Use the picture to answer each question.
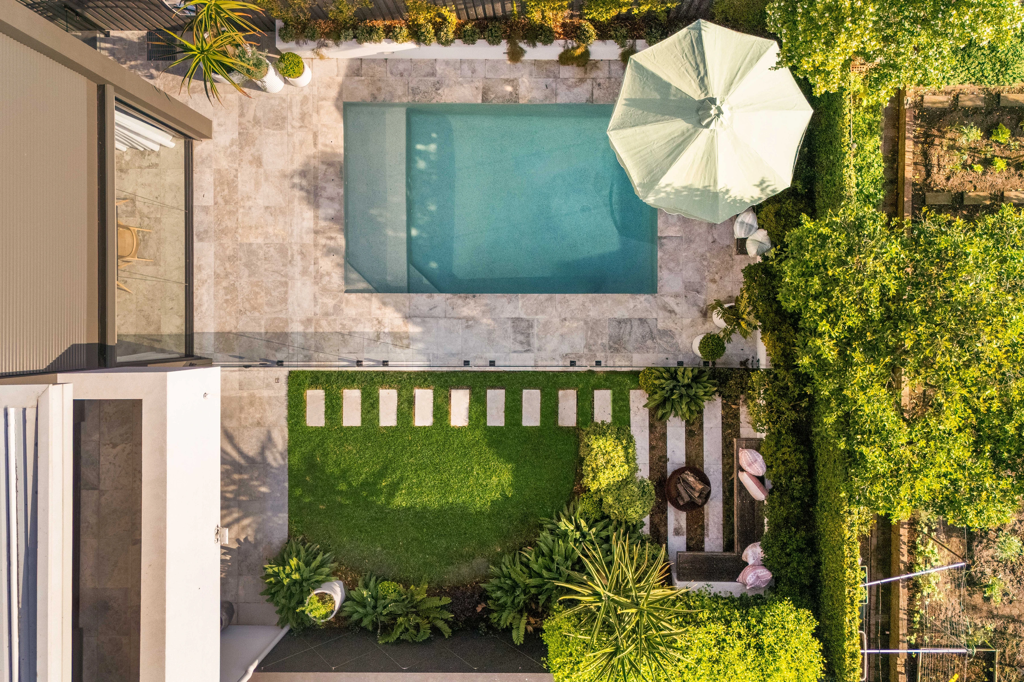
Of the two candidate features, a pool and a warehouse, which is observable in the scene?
pool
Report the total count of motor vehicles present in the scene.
zero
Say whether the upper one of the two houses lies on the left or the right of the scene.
left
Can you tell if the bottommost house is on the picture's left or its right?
left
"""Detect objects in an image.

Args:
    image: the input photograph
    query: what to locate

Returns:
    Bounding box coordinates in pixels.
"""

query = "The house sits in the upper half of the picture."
[0,0,212,382]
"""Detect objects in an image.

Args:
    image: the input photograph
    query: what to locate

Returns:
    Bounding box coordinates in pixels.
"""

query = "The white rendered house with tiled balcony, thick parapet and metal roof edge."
[0,367,221,682]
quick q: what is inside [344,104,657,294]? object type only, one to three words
swimming pool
